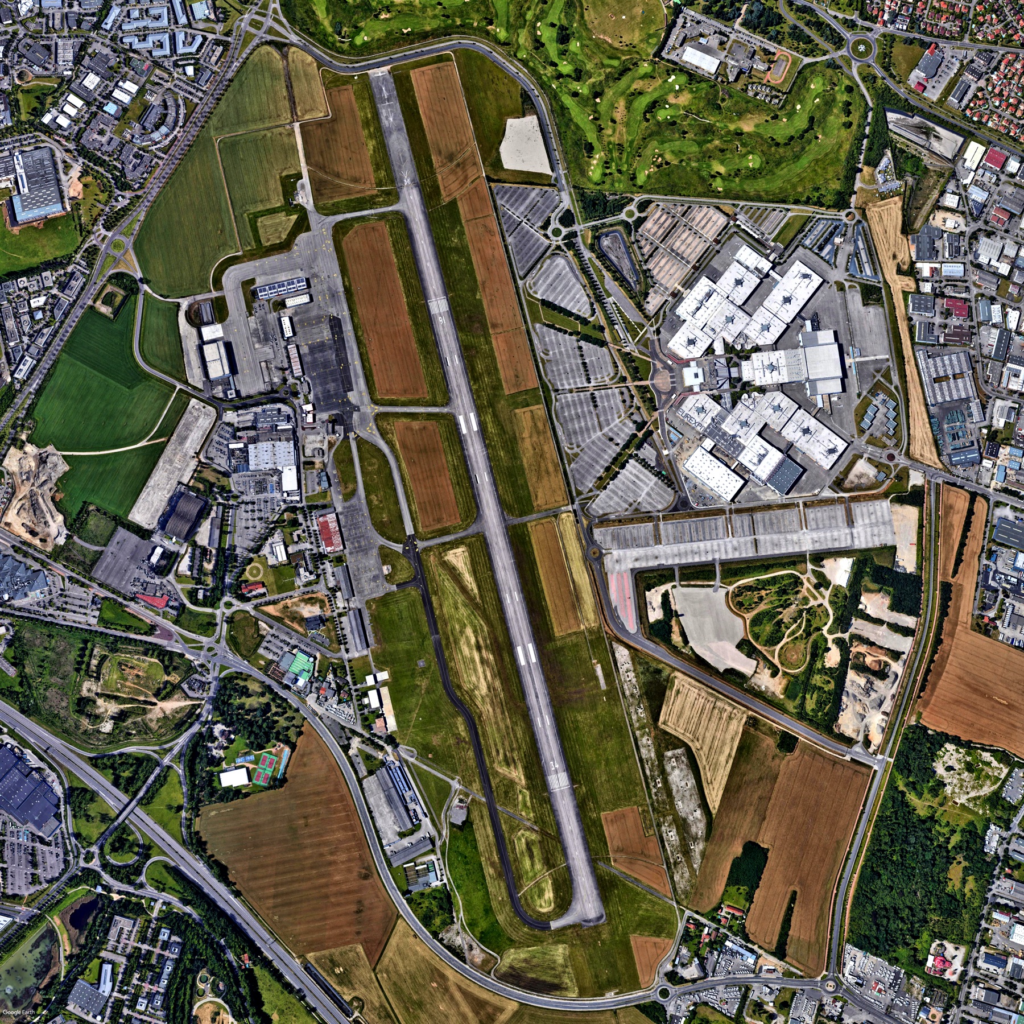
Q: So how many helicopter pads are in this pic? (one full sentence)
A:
The photo contains no helicopter pads.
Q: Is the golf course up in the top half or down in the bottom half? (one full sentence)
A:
The top half of the photo is where the golf course is.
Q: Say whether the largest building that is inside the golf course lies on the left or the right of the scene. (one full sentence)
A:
You can find the largest building that is inside the golf course on the right side of the picture.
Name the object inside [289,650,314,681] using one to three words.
hangar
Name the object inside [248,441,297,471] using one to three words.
hangar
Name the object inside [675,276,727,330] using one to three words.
building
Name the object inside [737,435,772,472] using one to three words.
building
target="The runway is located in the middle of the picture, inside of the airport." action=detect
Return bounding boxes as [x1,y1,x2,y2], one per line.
[370,68,605,925]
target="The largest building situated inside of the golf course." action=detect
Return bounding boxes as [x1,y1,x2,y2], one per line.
[681,47,720,76]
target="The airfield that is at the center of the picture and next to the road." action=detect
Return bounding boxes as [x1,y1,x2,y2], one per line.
[223,68,606,929]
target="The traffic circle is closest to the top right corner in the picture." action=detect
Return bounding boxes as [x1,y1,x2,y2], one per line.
[847,34,876,62]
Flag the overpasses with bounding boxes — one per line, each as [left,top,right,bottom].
[94,728,189,851]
